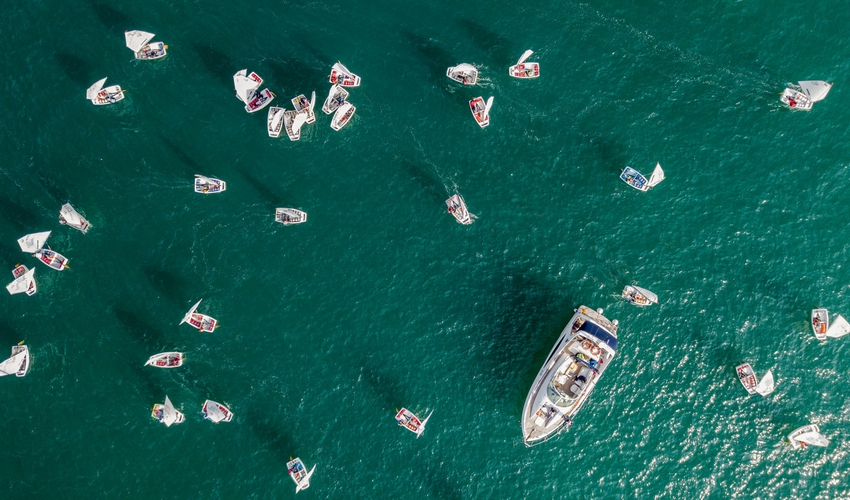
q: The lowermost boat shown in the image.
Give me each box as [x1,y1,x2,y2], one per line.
[286,453,317,495]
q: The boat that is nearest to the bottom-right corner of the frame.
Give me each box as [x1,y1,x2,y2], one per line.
[782,424,834,449]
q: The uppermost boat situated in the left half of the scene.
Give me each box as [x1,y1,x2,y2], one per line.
[125,29,173,60]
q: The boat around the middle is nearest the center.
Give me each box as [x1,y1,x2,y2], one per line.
[445,192,471,226]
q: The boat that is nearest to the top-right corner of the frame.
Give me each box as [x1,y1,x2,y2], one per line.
[774,79,832,110]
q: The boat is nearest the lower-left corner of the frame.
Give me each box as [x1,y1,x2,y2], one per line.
[0,341,31,377]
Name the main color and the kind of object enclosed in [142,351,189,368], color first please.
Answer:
white boat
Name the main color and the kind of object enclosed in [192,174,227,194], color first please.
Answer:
white boat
